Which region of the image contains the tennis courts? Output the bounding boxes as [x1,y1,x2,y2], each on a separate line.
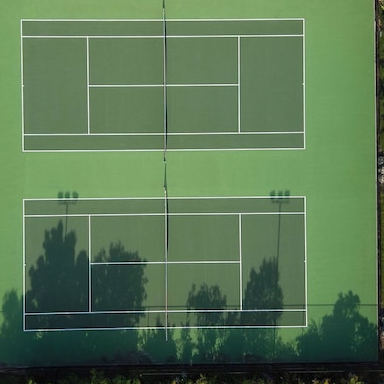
[23,196,307,330]
[22,18,306,151]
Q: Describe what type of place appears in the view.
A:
sports ground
